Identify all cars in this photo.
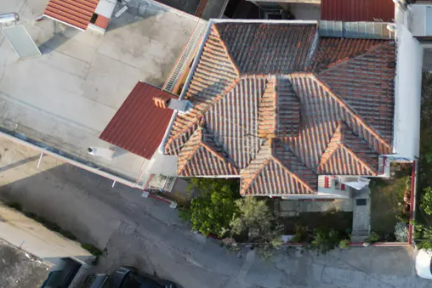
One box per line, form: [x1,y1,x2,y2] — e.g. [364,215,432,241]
[104,263,181,288]
[413,250,432,281]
